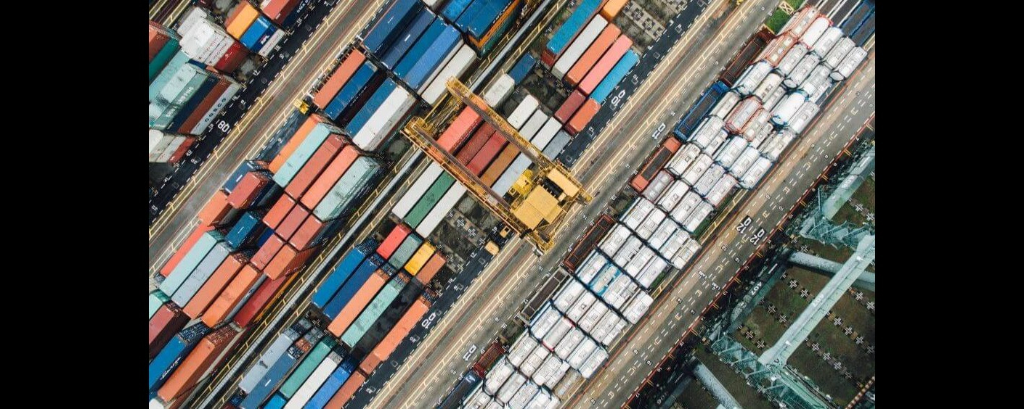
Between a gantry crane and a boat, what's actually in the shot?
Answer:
gantry crane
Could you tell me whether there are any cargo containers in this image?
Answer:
Yes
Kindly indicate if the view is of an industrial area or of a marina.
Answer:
industrial area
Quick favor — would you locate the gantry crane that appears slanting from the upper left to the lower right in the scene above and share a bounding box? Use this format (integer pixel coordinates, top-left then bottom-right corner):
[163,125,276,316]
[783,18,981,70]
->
[407,71,597,248]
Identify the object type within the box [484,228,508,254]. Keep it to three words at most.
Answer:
truck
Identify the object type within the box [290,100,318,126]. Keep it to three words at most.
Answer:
truck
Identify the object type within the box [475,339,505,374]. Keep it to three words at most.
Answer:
shipping container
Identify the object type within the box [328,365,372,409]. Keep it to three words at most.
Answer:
shipping container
